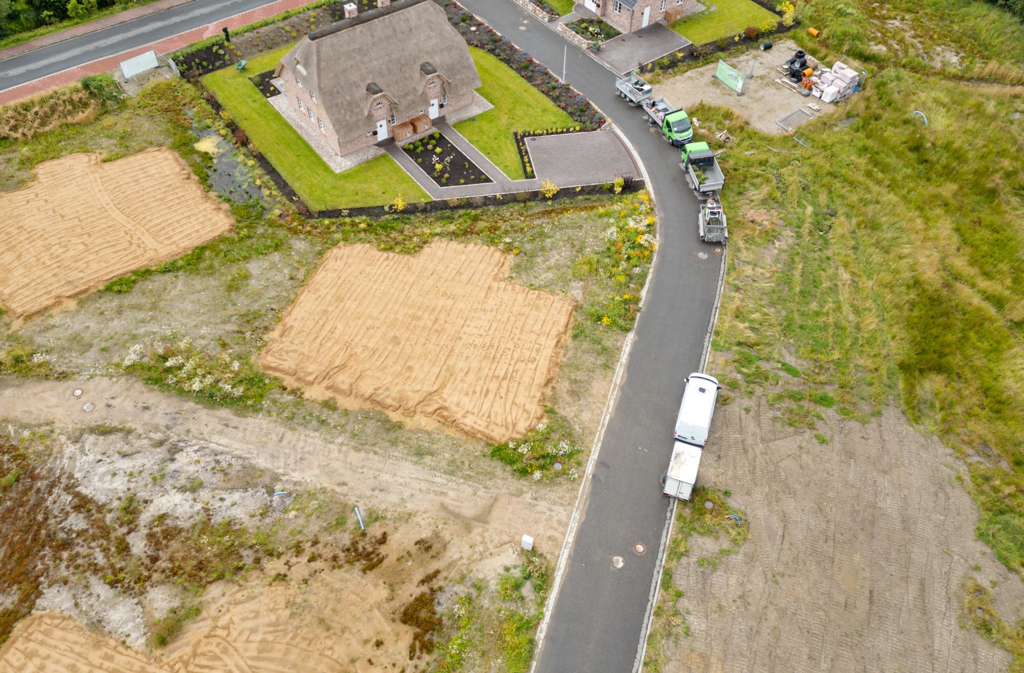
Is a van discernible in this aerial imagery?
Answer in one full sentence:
Yes, looking at the shot, I can spot a van.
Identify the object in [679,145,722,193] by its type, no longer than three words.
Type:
truck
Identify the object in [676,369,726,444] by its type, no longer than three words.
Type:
van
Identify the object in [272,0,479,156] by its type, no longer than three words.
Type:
house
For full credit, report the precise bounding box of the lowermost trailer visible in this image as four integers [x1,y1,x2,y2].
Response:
[663,440,703,501]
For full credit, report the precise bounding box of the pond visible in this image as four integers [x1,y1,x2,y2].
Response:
[190,108,277,205]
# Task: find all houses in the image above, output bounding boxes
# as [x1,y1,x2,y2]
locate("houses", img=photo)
[564,0,693,33]
[272,0,479,156]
